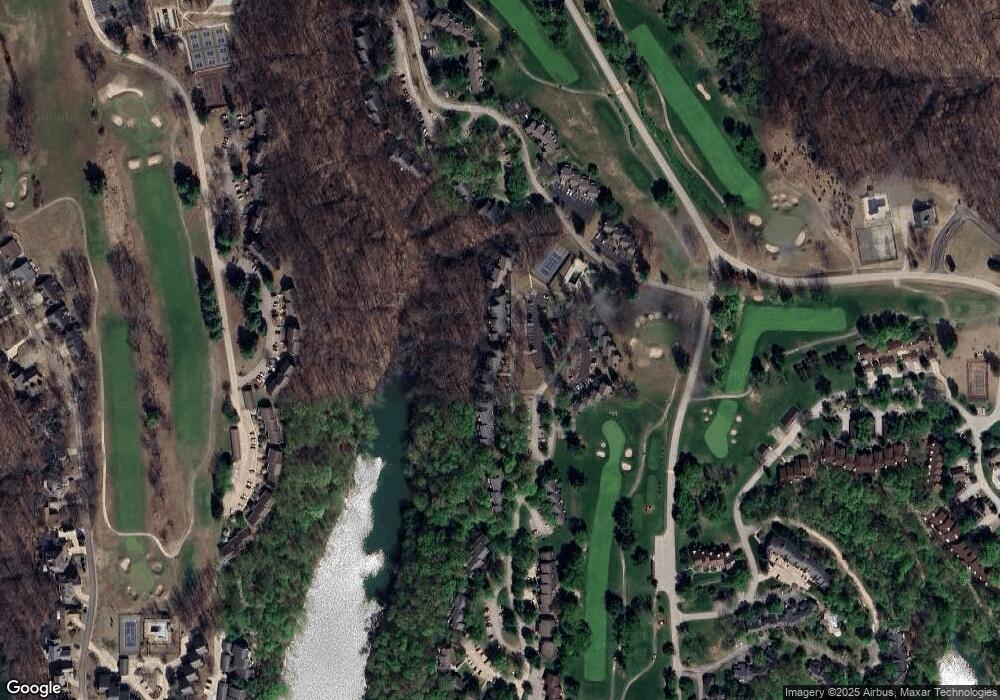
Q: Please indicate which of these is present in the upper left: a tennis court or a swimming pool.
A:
tennis court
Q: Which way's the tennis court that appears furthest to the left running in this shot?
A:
vertically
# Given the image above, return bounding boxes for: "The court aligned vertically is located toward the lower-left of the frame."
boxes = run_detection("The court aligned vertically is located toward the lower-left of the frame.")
[119,613,140,655]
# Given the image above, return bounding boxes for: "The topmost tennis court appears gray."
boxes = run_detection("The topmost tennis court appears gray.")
[186,23,231,72]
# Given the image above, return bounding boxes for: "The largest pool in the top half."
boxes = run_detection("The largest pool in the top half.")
[859,190,892,226]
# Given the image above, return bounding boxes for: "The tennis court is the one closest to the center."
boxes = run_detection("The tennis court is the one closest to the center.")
[535,245,570,283]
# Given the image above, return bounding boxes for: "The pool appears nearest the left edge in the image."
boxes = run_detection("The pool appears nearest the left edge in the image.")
[146,613,173,649]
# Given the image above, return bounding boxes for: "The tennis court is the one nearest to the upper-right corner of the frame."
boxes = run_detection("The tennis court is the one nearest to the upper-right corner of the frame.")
[859,226,898,262]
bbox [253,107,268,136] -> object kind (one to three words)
building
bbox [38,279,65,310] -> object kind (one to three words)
house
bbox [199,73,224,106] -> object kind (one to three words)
tennis court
